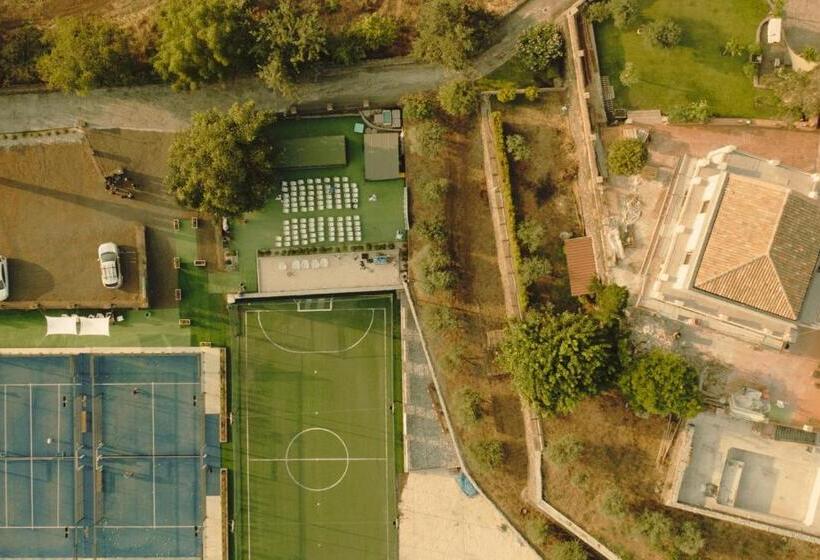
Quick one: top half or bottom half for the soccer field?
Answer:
bottom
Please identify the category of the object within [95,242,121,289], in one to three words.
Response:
car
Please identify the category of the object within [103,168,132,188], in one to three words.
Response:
work vehicle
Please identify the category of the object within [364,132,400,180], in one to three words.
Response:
shed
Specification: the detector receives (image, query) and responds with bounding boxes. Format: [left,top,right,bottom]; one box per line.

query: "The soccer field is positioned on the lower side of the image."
[230,292,396,560]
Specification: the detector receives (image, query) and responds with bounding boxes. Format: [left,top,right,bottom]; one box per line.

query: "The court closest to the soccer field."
[92,354,205,560]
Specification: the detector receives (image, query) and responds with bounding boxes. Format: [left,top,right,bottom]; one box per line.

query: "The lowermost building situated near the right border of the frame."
[639,143,820,361]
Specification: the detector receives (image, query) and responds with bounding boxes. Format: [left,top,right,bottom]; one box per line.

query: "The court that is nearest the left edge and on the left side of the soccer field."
[0,354,82,560]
